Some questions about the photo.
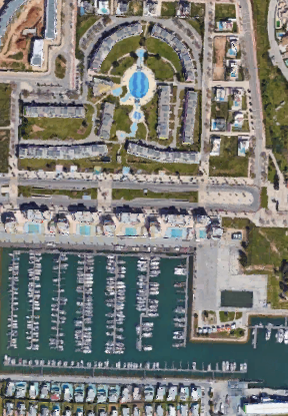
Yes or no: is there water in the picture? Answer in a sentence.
Yes, some water is visible.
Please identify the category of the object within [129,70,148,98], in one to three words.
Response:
swimming pool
